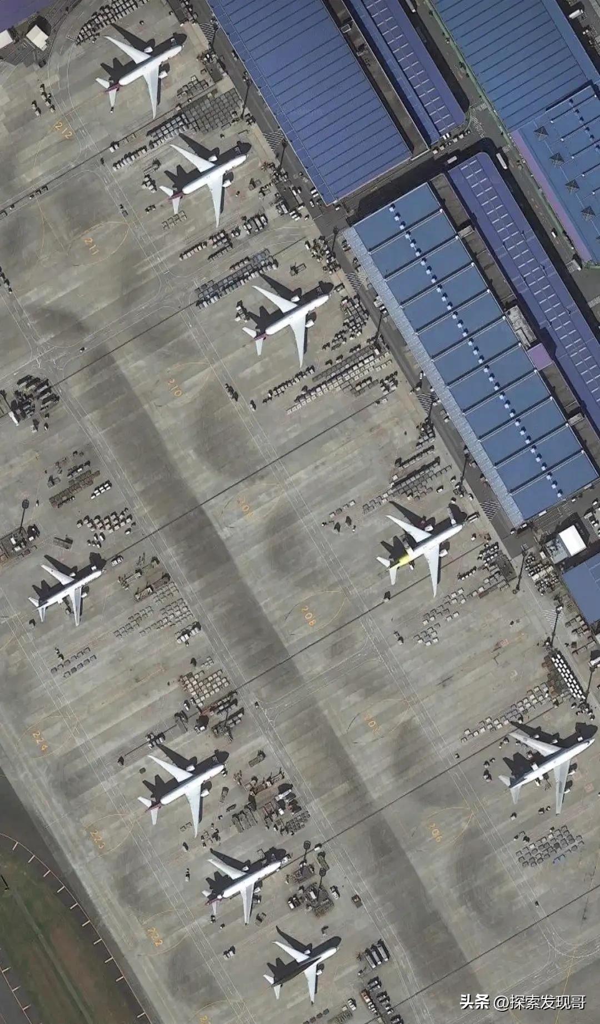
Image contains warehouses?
Yes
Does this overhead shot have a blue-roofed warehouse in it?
Yes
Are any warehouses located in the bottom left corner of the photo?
No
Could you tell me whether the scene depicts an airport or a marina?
airport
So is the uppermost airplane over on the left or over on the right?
left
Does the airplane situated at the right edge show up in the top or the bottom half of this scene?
bottom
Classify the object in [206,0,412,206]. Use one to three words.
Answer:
warehouse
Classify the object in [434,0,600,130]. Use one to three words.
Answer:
warehouse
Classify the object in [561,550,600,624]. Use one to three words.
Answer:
building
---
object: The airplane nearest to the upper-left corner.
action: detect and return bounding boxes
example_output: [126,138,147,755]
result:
[95,36,183,118]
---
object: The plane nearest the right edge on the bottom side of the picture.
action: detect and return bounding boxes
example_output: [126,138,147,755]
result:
[498,733,591,815]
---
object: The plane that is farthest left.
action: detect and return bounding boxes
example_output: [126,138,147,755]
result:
[28,565,102,625]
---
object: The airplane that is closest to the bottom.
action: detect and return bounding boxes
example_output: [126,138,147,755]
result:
[262,943,335,1004]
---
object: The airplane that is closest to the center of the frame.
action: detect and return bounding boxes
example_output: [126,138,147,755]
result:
[376,516,464,597]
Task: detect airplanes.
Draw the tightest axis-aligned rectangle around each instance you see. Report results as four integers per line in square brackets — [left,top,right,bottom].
[159,144,247,227]
[498,733,591,815]
[199,859,279,926]
[138,756,225,836]
[243,285,331,367]
[28,565,102,625]
[95,36,183,118]
[376,516,464,597]
[262,943,335,1004]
